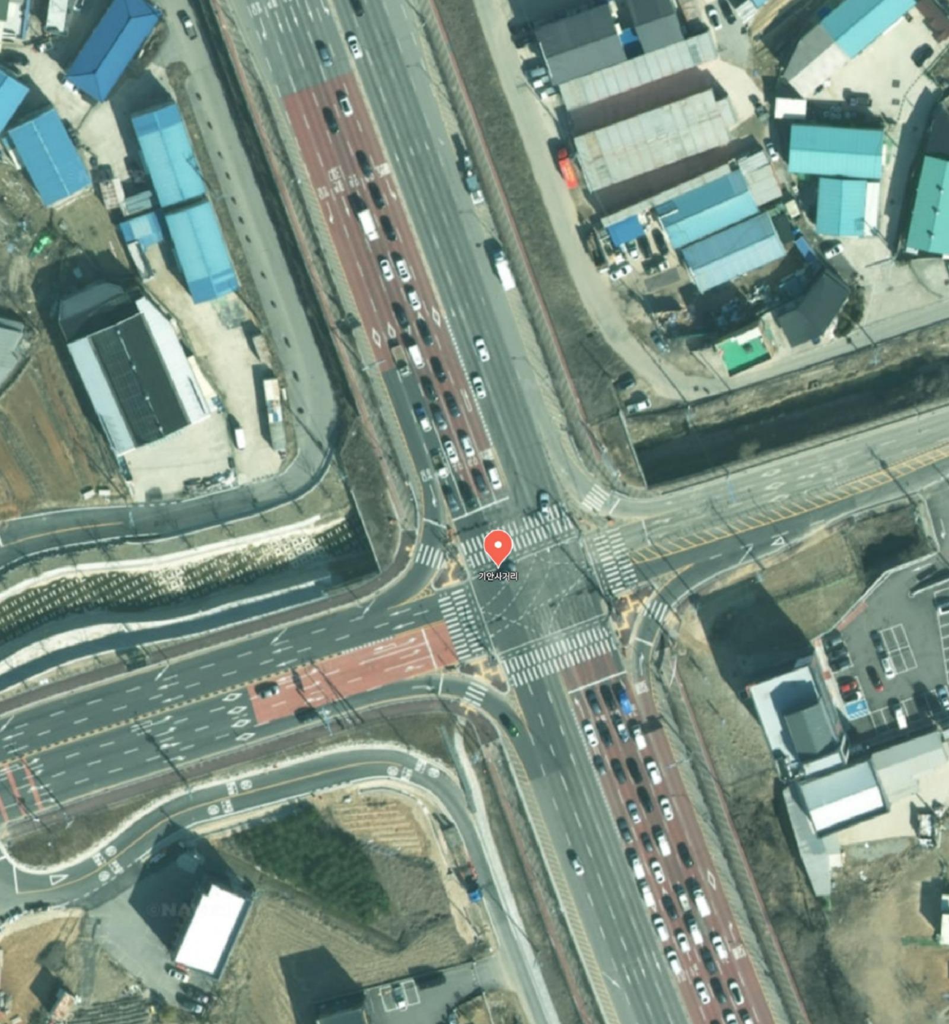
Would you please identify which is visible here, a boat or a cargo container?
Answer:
cargo container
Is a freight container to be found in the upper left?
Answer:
Yes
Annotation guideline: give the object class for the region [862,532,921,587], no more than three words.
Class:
pond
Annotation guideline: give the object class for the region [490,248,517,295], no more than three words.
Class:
truck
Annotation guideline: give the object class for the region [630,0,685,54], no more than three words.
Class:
building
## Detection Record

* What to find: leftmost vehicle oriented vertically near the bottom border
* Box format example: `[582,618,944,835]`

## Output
[394,984,406,1007]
